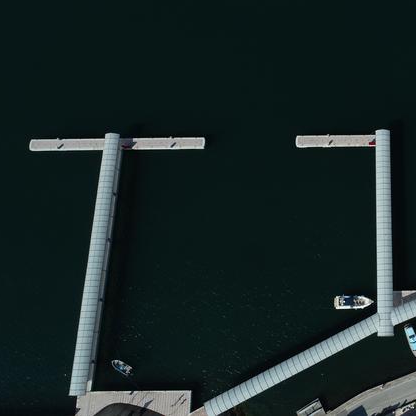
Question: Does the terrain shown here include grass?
No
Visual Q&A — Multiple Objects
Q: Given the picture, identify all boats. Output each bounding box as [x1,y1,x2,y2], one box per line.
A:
[111,360,132,376]
[334,294,374,310]
[404,324,416,355]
